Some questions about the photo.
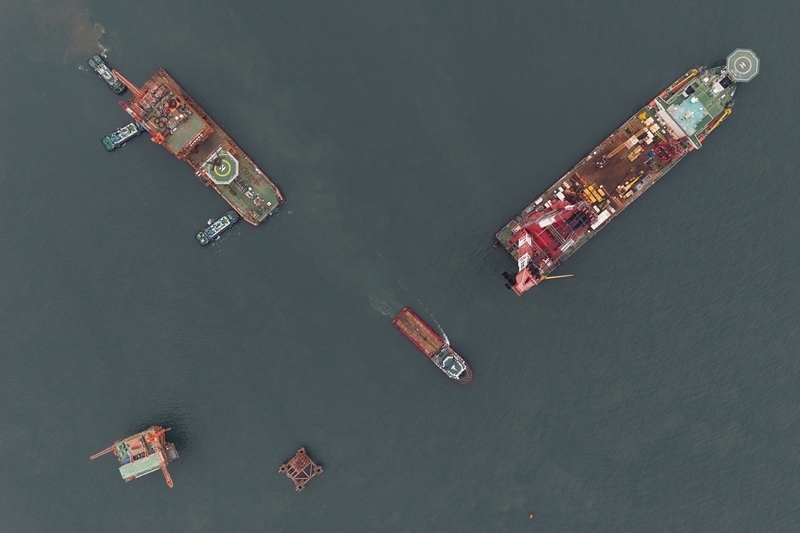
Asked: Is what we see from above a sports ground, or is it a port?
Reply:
port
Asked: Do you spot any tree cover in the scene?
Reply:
No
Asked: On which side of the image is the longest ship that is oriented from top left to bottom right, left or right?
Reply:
left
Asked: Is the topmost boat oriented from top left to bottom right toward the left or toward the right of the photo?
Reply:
left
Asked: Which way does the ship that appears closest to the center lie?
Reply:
on a diagonal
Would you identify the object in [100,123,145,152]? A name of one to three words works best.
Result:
boat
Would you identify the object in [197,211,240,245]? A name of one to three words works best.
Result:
boat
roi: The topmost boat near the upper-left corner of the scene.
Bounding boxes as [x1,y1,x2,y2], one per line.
[88,54,126,94]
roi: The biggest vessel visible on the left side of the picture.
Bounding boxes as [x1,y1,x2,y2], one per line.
[109,69,285,225]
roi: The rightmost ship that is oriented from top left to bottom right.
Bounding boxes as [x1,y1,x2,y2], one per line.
[394,309,470,383]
